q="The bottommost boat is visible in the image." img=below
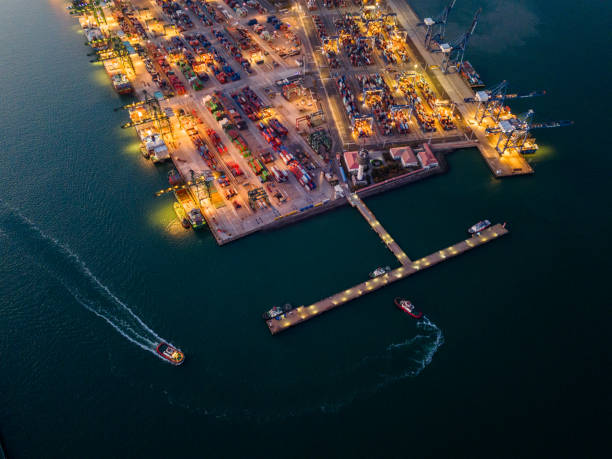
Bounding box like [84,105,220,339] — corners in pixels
[153,339,184,363]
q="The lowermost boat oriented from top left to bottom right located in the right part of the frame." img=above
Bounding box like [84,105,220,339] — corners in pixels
[396,295,425,320]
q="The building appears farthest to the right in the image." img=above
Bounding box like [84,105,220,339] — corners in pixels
[418,143,440,170]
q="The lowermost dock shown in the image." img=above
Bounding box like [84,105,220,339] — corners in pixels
[266,197,508,335]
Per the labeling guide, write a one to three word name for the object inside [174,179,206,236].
ship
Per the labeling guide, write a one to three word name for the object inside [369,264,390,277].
boat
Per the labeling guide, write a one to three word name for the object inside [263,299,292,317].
boat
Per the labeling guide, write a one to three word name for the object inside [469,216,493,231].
ship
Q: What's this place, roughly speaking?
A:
port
